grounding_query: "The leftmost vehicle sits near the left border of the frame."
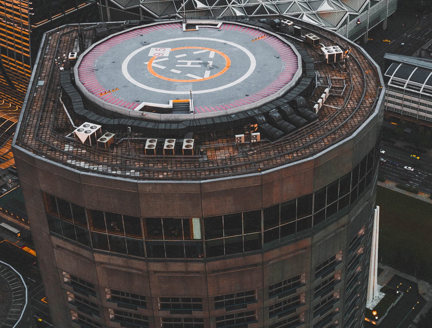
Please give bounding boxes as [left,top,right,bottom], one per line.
[0,219,19,235]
